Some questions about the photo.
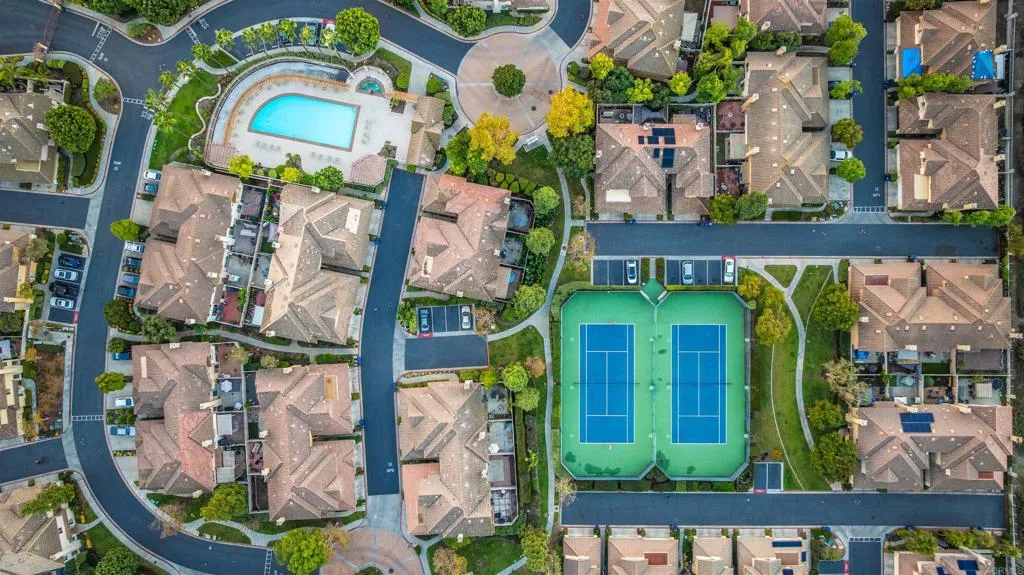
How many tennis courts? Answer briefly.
2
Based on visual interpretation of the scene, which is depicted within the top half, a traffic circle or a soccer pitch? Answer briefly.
traffic circle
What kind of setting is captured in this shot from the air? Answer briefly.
residential area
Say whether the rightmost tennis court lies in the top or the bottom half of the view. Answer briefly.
bottom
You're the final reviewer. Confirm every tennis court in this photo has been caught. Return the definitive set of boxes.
[656,285,748,480]
[561,280,656,479]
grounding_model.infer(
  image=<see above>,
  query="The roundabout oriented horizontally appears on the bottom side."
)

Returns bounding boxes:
[315,527,421,575]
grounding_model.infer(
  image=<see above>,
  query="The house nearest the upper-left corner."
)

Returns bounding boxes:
[0,92,80,188]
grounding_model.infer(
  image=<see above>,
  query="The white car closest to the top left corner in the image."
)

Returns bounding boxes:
[140,168,163,182]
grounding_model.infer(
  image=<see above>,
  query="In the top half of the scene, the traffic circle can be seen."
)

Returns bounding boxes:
[456,30,564,133]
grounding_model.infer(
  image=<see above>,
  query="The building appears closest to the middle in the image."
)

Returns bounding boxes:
[408,174,512,301]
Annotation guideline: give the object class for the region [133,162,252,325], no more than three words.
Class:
house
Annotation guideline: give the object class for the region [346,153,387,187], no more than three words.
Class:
gazebo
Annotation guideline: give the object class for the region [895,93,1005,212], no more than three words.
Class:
house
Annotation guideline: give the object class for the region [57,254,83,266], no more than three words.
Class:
vehicle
